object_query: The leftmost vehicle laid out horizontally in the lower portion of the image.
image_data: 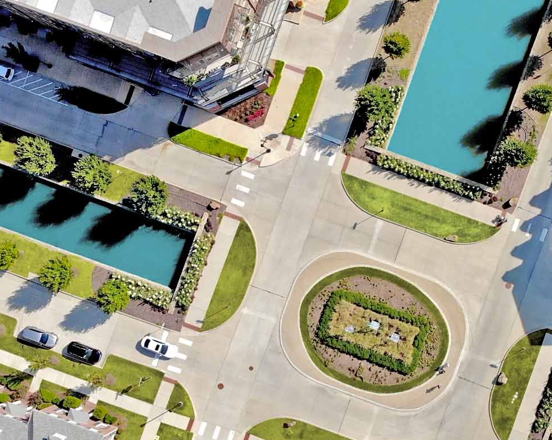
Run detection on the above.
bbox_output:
[15,326,59,349]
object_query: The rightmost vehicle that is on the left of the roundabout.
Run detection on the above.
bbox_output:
[139,335,180,359]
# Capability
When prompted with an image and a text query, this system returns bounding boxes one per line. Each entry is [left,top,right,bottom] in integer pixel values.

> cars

[15,326,59,349]
[139,335,180,359]
[59,341,104,365]
[0,62,17,81]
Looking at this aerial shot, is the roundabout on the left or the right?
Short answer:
right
